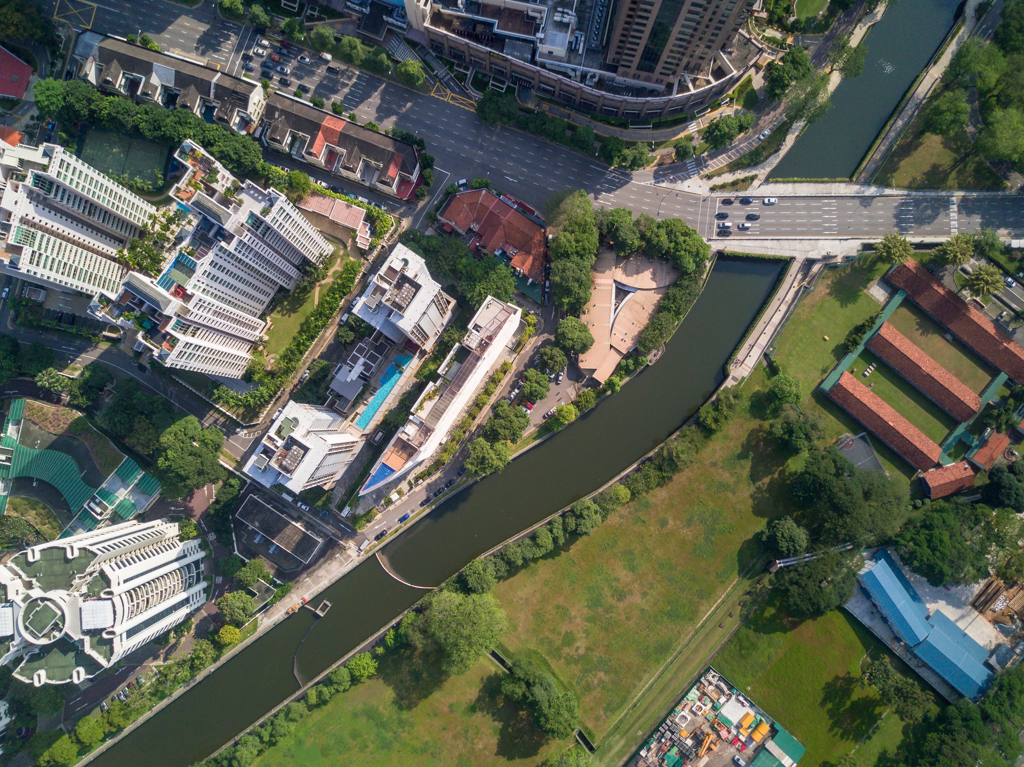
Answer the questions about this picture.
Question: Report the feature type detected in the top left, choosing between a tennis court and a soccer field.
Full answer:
You can see a tennis court in the top left.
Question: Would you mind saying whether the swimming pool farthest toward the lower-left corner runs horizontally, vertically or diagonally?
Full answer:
Seen from above, the swimming pool farthest toward the lower-left corner lies diagonally.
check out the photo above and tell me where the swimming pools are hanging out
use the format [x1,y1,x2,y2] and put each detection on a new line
[159,252,179,277]
[354,353,416,434]
[362,464,395,492]
[176,261,196,278]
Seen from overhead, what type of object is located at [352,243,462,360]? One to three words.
building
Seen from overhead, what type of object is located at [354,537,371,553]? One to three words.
vehicle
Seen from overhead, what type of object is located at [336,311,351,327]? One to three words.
vehicle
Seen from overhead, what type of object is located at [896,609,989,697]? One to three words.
shed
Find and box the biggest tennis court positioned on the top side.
[81,128,172,181]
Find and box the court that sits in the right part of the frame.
[841,433,891,480]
